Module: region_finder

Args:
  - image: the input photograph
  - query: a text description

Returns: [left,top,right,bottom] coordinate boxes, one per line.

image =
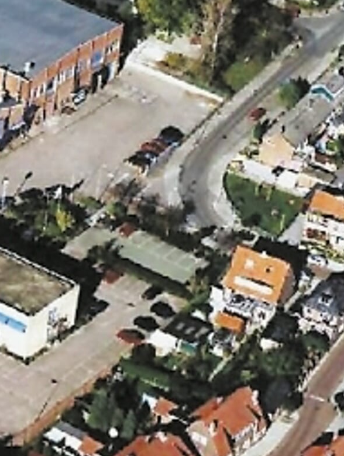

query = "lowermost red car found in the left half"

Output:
[116,327,145,345]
